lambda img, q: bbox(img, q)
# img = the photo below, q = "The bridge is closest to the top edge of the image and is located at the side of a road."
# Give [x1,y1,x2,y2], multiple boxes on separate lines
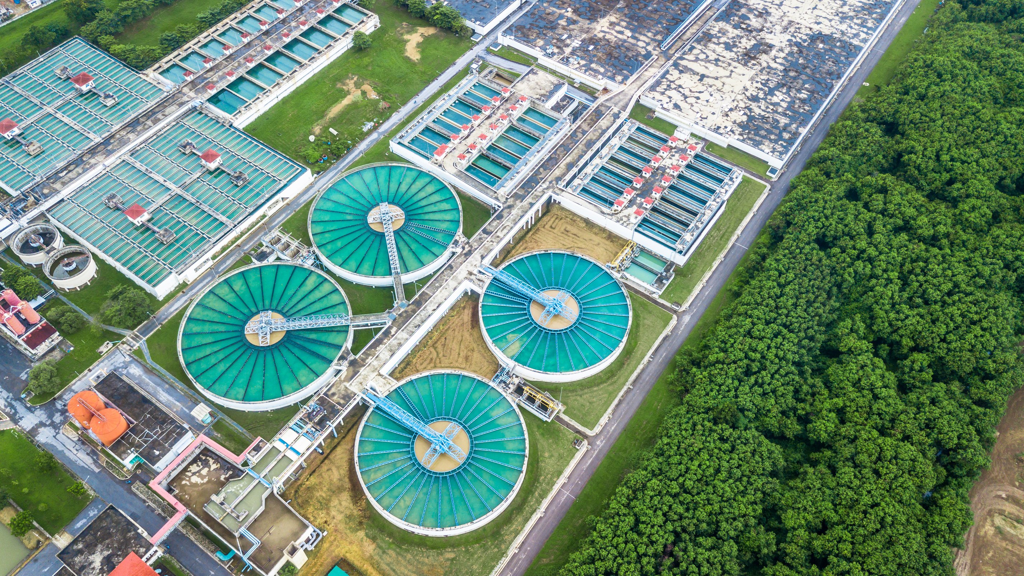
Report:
[367,198,406,275]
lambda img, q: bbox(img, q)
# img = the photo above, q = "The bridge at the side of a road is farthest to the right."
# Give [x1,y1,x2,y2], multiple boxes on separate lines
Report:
[487,265,578,323]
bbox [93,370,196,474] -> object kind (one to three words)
building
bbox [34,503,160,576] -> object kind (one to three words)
building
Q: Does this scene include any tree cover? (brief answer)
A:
Yes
